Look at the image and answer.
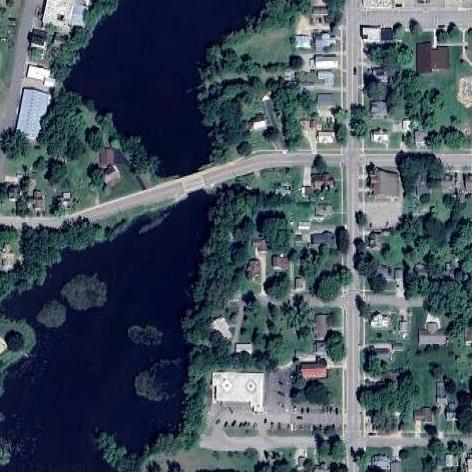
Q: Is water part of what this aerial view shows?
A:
Yes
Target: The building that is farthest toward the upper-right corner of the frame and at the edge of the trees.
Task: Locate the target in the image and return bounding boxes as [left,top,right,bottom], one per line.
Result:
[415,42,447,73]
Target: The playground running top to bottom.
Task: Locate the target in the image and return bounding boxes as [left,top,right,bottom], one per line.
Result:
[456,73,472,107]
